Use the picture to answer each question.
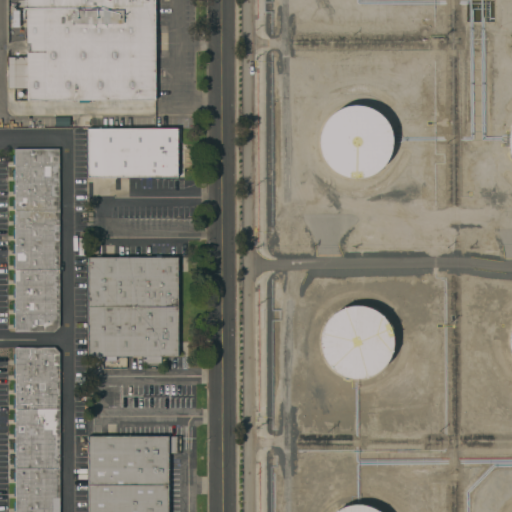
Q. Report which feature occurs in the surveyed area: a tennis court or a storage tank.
storage tank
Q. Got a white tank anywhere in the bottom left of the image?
No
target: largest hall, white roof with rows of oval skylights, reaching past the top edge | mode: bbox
[26,0,157,103]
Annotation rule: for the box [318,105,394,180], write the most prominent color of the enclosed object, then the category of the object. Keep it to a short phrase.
white storage tank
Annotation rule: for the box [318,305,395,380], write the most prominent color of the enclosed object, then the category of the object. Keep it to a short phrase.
white storage tank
